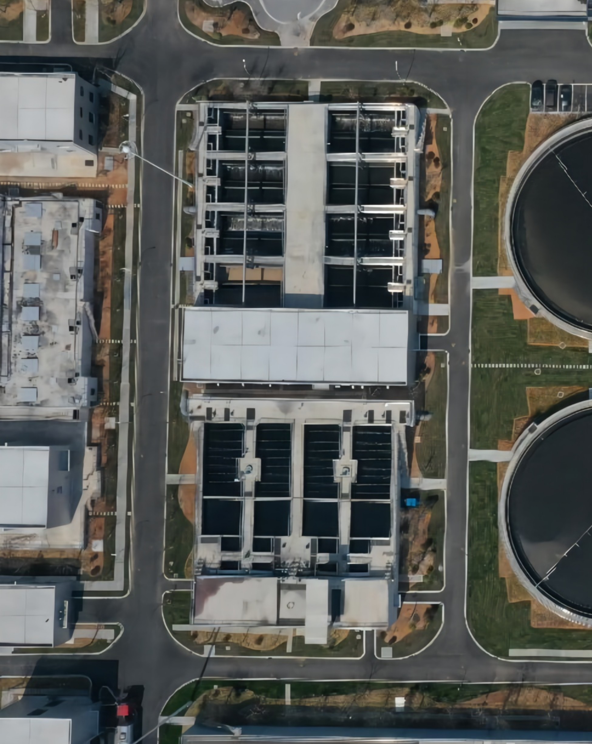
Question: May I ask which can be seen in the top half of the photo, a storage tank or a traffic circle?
storage tank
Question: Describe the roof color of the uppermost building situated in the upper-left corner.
white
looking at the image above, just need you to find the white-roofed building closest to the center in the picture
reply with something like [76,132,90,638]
[179,306,418,385]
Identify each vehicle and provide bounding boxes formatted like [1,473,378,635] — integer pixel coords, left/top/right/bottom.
[532,82,544,110]
[545,81,558,110]
[559,83,572,113]
[116,700,140,744]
